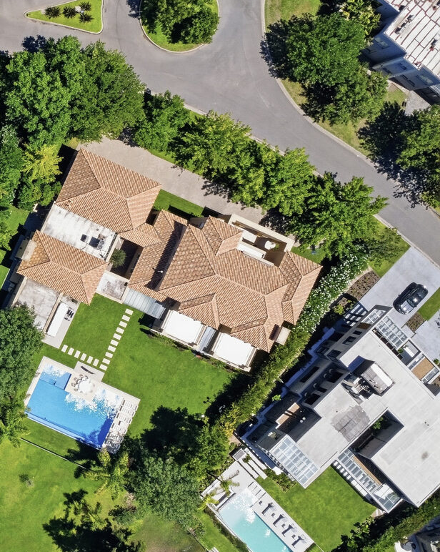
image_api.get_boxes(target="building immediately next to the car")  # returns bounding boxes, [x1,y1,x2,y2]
[239,302,440,514]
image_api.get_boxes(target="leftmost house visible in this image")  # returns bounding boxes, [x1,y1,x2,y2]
[7,149,324,373]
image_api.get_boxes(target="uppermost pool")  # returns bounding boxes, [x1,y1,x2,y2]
[20,356,141,451]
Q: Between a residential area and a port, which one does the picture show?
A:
residential area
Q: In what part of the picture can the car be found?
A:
right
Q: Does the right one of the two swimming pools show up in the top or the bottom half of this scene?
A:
bottom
